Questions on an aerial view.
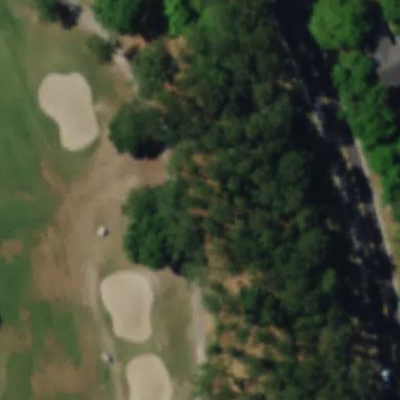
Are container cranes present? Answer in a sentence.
No, no container crane is visible in the view.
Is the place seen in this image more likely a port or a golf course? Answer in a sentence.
The picture captures a golf course.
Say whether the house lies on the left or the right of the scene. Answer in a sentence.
The house is on the right side of the image.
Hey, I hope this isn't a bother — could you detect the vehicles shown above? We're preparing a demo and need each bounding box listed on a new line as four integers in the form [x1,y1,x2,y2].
[380,365,392,386]
[100,352,112,363]
[96,226,107,235]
